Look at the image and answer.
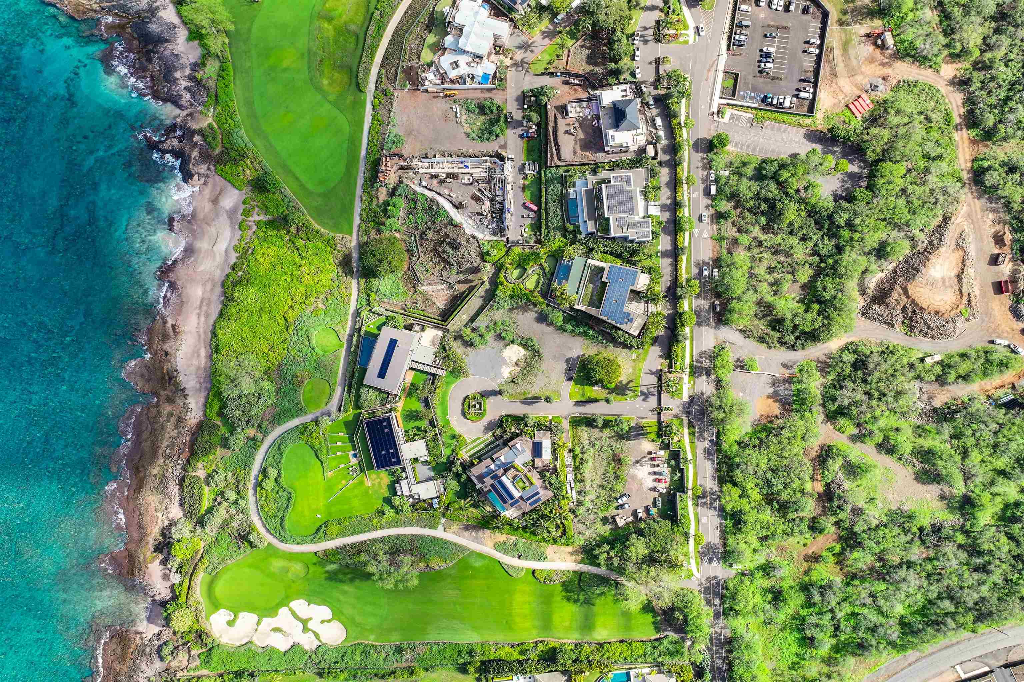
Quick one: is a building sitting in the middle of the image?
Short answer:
Yes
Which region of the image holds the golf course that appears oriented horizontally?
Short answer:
bottom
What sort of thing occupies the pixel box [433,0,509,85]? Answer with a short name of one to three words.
house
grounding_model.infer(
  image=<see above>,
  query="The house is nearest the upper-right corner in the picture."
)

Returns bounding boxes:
[598,83,647,152]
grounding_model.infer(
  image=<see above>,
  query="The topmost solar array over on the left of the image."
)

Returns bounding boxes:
[377,339,397,379]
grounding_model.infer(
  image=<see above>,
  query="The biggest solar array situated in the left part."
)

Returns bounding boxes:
[365,417,402,470]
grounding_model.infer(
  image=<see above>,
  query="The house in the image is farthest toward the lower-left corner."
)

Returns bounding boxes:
[363,413,446,500]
